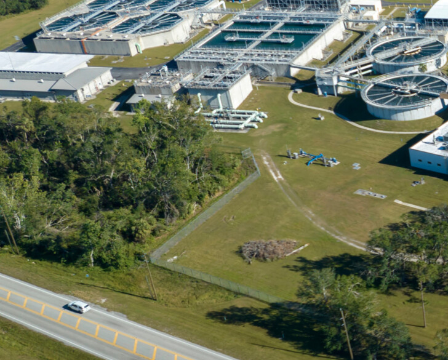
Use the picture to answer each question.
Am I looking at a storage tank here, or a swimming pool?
storage tank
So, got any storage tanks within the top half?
Yes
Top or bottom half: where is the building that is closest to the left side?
top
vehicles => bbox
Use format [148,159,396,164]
[66,300,88,313]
